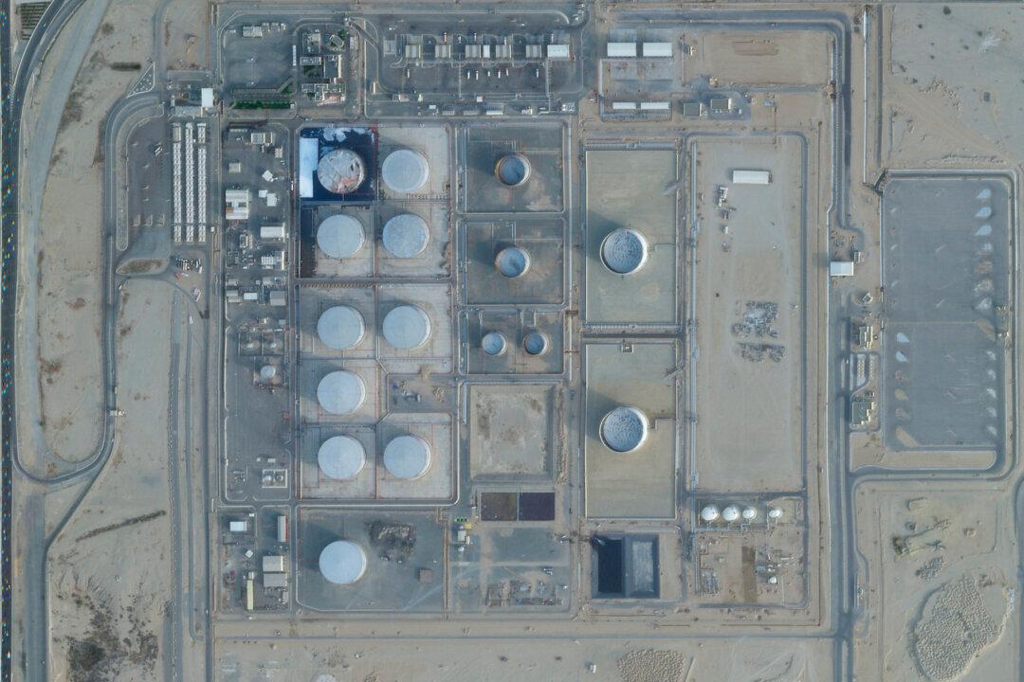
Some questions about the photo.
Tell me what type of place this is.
industrial area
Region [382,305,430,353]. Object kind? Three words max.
storage tank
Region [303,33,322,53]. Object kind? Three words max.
building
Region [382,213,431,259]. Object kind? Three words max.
storage tank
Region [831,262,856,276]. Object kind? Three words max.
building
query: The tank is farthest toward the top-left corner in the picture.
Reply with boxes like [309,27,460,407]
[316,146,366,195]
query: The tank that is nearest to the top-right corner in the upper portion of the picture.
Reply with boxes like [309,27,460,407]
[600,228,654,275]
